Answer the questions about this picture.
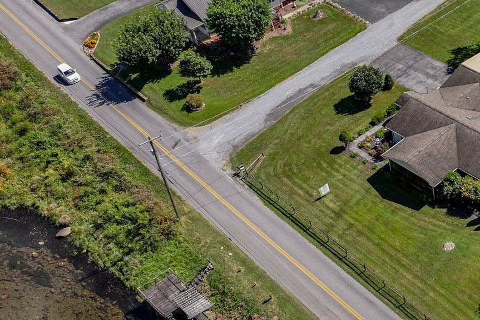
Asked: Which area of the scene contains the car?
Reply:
top left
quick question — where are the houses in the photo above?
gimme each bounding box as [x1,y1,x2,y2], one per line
[381,54,480,198]
[162,0,289,51]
